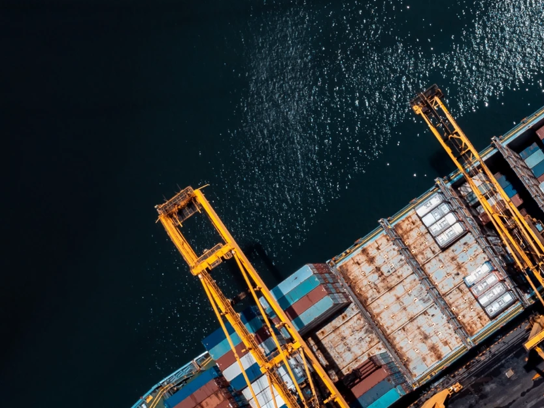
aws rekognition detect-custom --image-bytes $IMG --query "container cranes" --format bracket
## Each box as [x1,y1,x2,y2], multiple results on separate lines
[403,81,544,362]
[151,180,356,408]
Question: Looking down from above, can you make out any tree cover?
No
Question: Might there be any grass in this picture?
No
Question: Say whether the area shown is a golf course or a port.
port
